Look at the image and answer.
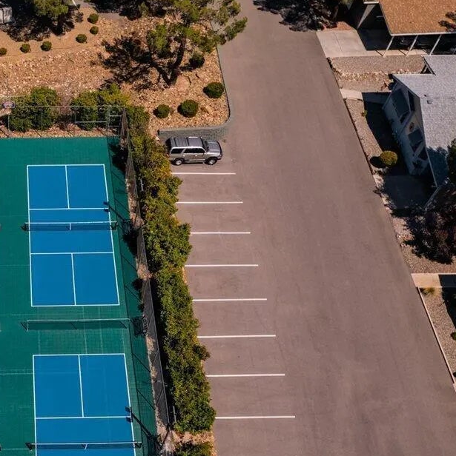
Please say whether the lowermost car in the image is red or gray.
gray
